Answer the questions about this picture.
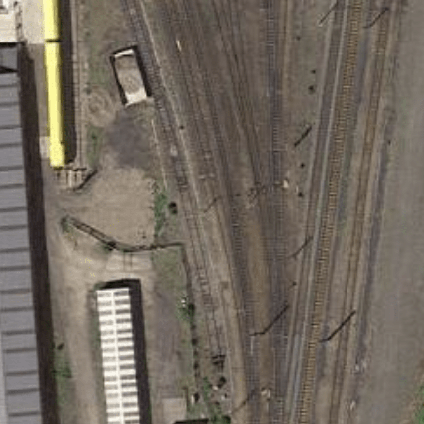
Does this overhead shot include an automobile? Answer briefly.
No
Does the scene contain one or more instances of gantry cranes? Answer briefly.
No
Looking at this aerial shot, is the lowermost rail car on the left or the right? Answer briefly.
left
